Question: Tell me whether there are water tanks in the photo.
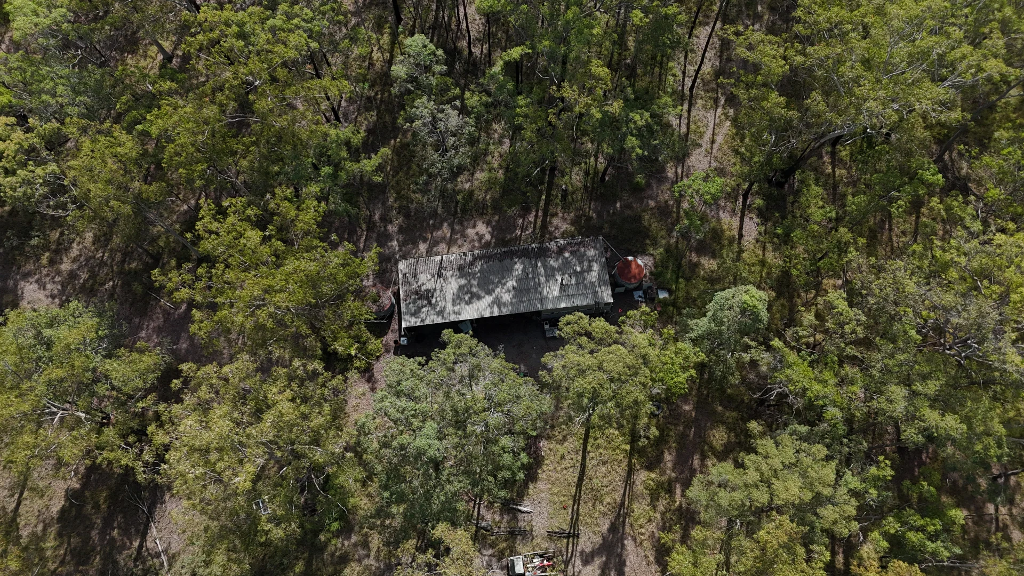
Yes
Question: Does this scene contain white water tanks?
No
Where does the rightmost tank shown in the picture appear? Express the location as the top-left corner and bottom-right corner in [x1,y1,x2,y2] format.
[613,258,646,293]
